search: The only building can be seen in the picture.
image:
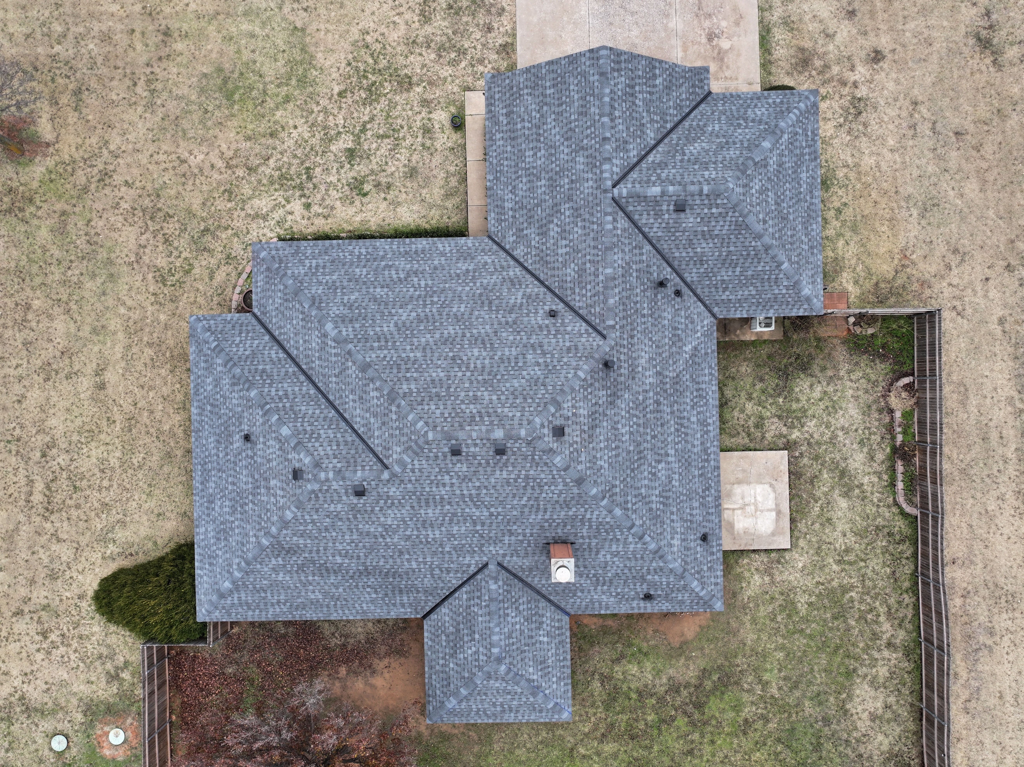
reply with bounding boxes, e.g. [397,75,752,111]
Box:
[189,44,823,723]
